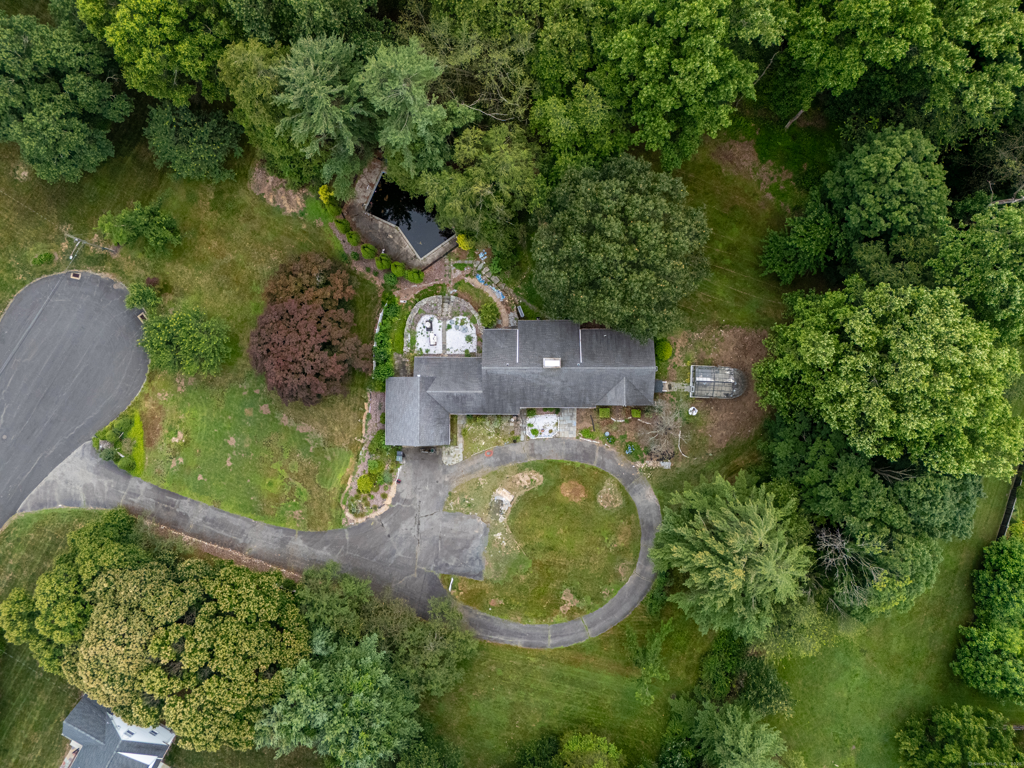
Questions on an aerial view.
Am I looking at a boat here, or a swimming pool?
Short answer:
swimming pool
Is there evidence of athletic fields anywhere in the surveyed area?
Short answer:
No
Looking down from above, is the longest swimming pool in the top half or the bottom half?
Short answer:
top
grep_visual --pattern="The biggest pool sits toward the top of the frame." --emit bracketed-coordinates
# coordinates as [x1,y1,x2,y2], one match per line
[362,168,459,262]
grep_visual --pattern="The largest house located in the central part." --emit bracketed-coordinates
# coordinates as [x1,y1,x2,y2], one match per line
[385,319,663,447]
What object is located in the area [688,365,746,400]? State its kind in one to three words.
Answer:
greenhouse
